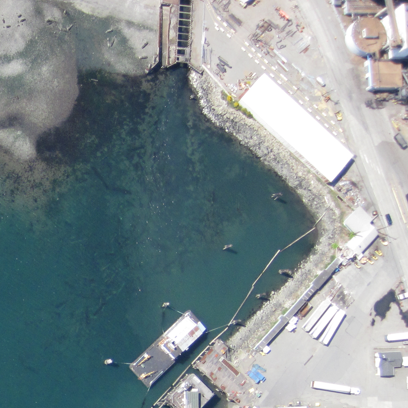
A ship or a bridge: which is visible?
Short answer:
ship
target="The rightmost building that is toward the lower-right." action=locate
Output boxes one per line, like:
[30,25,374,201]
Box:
[371,352,408,376]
